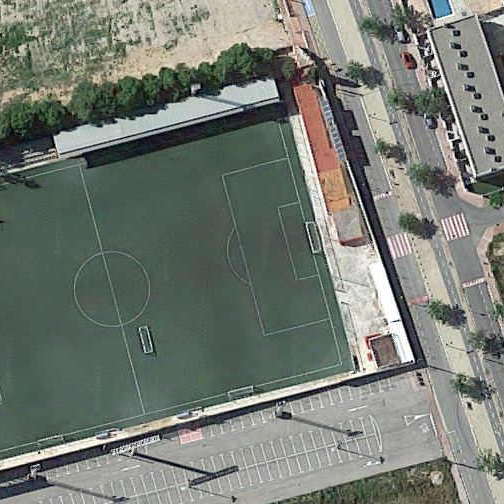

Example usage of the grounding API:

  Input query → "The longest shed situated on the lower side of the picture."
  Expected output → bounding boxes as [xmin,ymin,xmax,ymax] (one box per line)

[369,263,415,366]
